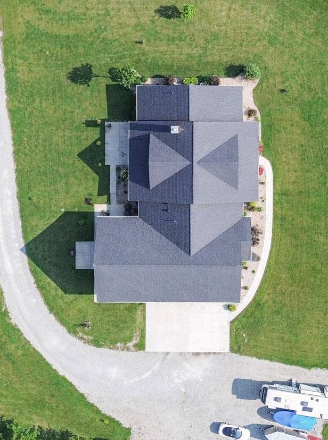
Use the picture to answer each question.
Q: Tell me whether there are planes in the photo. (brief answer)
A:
No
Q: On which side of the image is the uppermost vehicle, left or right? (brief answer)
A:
right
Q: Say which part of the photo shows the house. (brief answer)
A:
center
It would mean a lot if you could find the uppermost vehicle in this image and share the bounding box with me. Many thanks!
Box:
[257,378,328,419]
